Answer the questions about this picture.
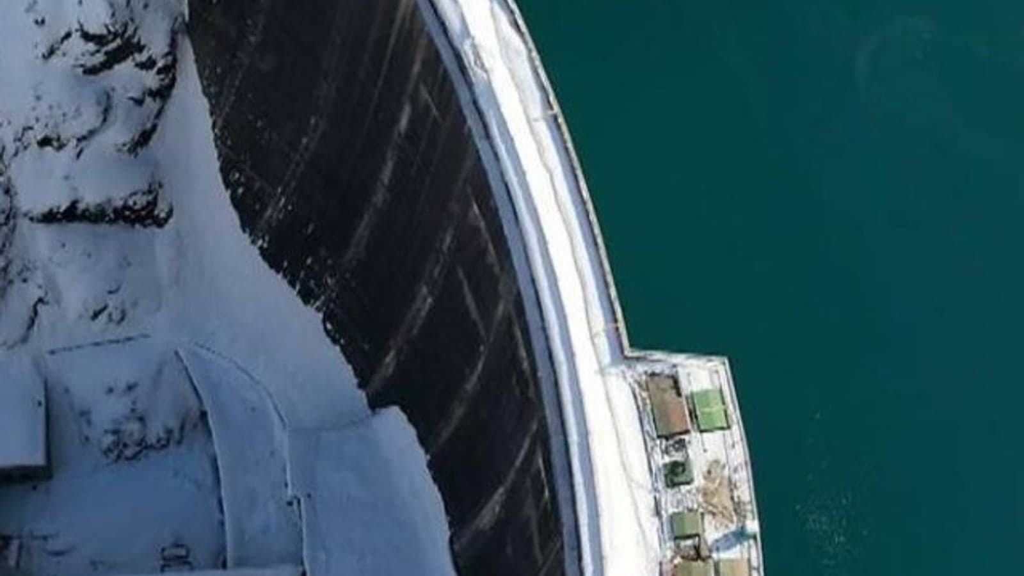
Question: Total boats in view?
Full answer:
No boats are visible.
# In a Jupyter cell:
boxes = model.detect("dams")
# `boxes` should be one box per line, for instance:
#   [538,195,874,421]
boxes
[181,0,627,576]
